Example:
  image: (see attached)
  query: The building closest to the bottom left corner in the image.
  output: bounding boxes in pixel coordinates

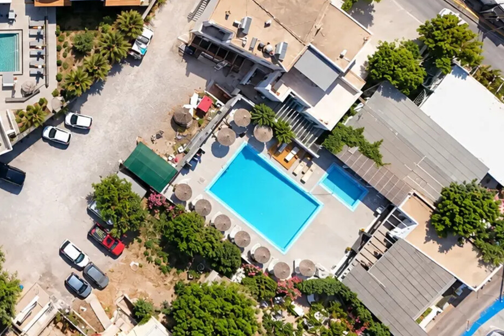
[13,276,58,336]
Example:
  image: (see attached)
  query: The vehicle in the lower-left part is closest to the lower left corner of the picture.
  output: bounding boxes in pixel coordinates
[62,270,93,298]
